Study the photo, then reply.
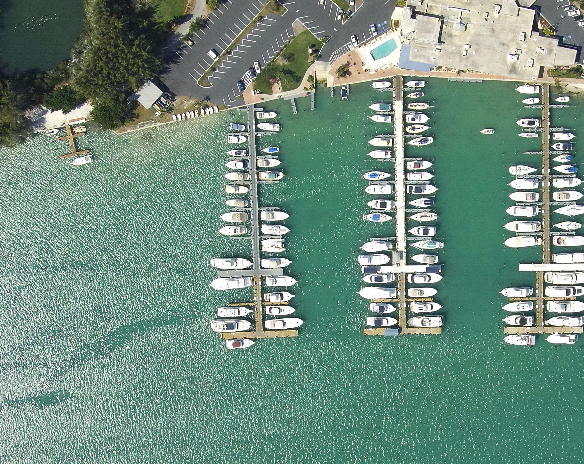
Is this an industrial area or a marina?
marina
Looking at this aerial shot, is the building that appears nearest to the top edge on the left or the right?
right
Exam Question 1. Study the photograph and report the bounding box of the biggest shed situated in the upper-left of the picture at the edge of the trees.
[135,85,163,109]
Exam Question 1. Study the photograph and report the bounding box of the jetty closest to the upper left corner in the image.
[56,125,90,160]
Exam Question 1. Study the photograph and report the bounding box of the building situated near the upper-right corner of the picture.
[398,0,577,82]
